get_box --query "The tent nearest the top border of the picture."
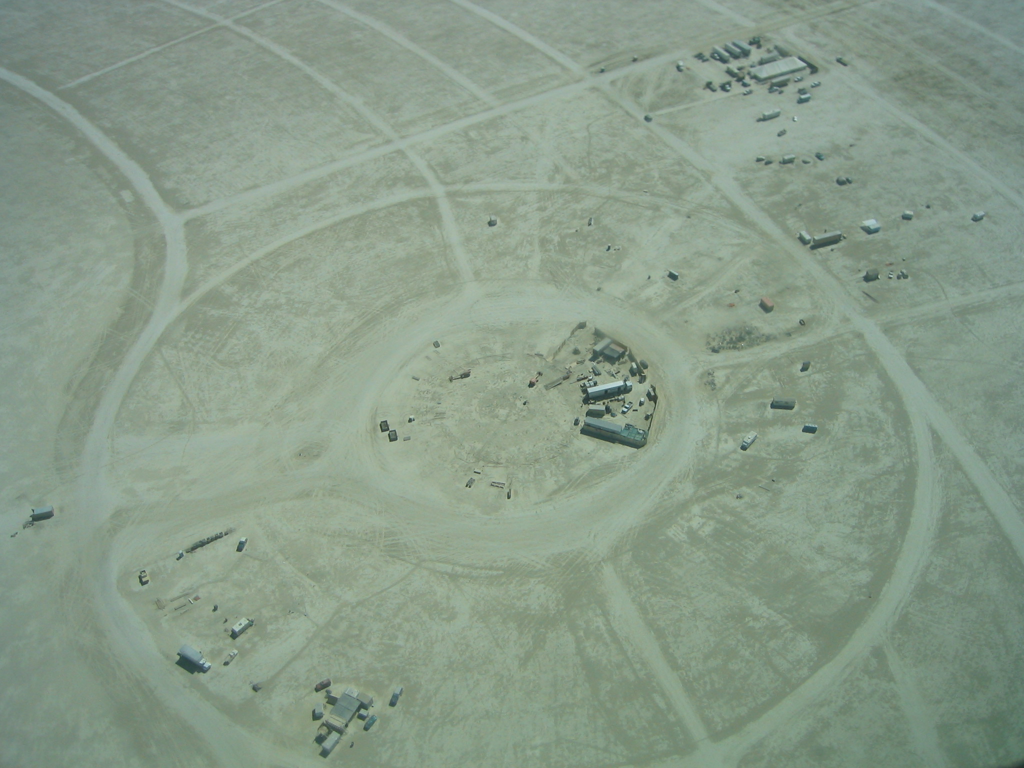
[748,57,808,86]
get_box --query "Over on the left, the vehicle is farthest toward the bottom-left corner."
[177,644,216,676]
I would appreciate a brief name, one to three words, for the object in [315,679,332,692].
vehicle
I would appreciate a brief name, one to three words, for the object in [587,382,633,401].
vehicle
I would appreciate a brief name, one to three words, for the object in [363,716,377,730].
car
